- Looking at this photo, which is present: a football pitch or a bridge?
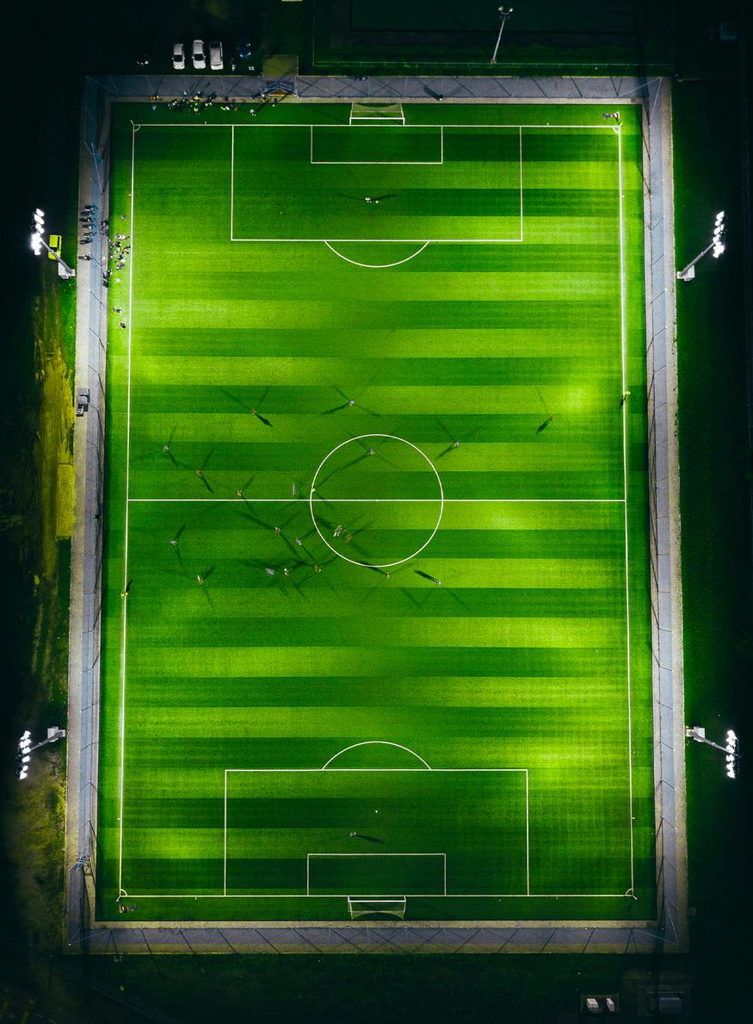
football pitch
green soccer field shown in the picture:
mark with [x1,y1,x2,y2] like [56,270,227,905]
[95,102,658,922]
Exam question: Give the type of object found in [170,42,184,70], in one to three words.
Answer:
car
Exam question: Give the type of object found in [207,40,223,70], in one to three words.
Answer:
car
